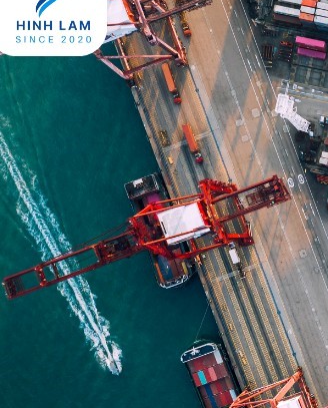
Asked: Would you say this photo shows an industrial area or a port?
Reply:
port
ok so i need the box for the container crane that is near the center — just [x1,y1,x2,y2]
[0,174,289,299]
